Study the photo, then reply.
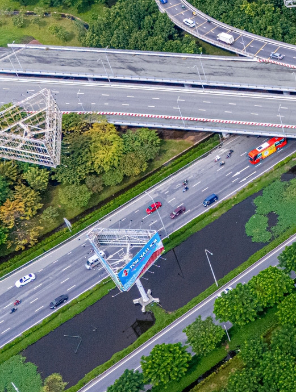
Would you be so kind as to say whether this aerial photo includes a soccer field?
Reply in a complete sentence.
No, there isn't any soccer field down there.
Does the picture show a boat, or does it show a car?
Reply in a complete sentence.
Visible in the photo is a car.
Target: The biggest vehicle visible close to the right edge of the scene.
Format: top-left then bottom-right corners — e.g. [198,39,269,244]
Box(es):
[246,136,289,167]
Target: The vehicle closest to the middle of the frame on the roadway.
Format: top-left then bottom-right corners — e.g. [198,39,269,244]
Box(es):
[145,200,164,214]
